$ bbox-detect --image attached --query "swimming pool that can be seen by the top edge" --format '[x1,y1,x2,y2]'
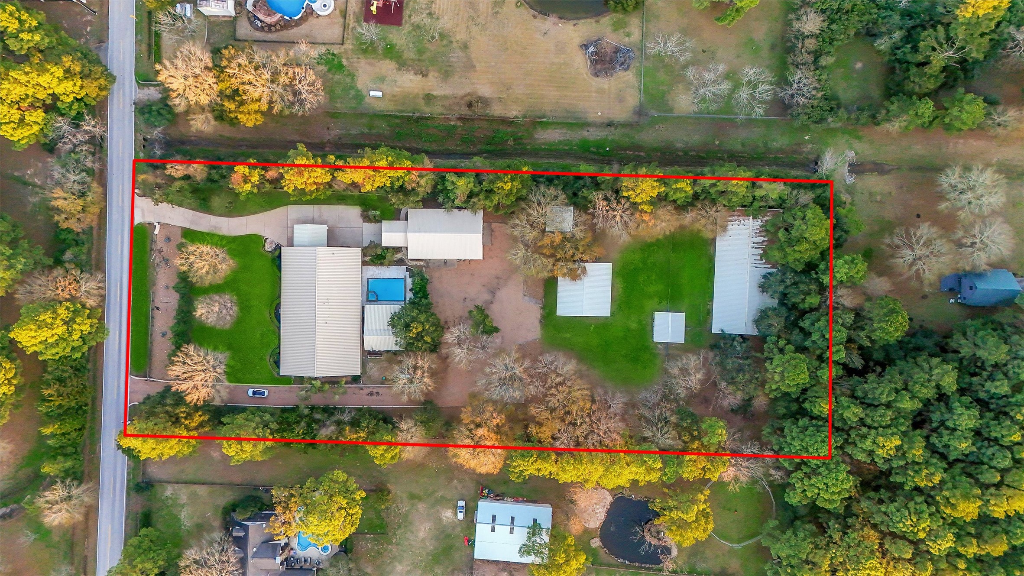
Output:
[246,0,309,24]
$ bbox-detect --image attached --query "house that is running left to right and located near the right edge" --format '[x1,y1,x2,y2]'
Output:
[941,272,1020,305]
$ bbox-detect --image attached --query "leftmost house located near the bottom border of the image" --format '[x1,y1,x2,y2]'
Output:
[229,513,315,576]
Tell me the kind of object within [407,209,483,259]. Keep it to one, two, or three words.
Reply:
house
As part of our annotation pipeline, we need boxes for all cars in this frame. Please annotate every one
[456,501,466,522]
[247,388,267,398]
